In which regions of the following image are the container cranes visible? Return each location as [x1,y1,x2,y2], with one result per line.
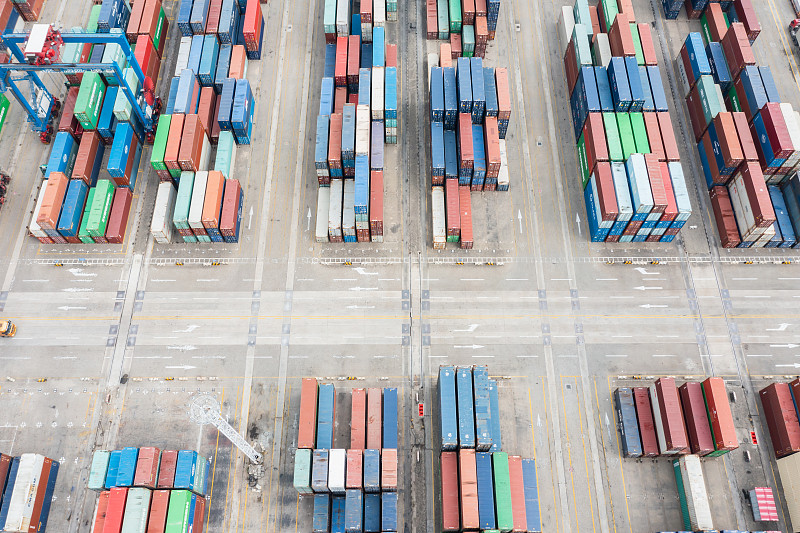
[0,24,161,144]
